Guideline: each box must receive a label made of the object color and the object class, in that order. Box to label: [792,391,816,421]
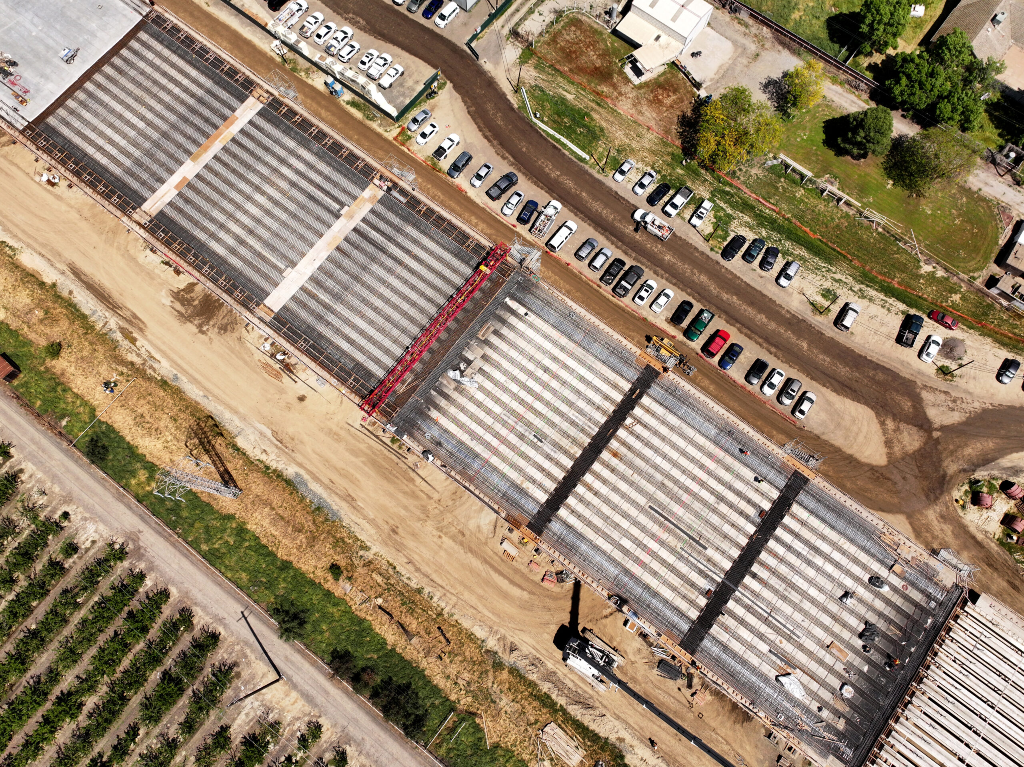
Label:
white car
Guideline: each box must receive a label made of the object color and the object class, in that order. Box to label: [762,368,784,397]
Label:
white car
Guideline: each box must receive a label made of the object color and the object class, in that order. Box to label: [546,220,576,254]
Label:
white truck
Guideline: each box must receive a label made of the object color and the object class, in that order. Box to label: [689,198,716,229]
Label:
white truck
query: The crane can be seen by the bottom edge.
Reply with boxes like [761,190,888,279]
[558,628,725,767]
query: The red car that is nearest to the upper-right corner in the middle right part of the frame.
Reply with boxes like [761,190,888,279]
[927,312,959,332]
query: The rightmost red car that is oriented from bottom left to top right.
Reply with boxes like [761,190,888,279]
[703,329,729,360]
